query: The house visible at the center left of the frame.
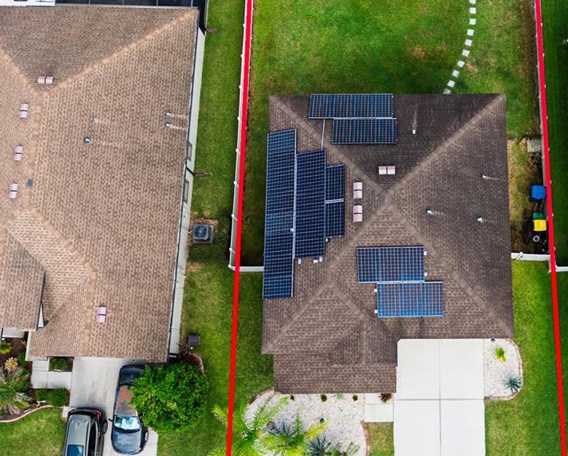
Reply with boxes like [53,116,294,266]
[0,6,219,361]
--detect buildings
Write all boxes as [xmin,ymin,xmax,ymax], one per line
[261,93,513,393]
[0,6,219,361]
